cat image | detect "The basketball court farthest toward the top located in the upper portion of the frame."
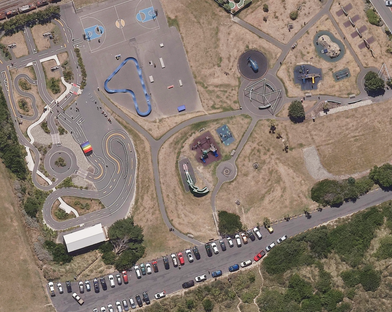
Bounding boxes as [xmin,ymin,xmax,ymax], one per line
[79,0,162,52]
